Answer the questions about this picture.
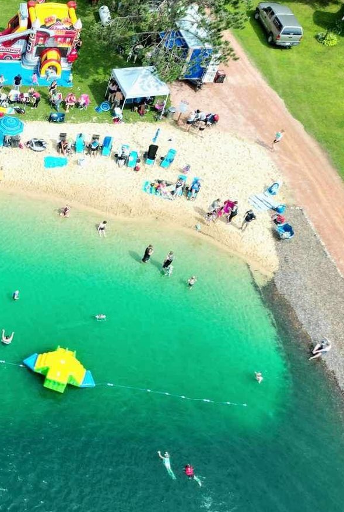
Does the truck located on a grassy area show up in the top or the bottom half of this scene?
top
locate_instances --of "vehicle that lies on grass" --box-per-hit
[253,0,312,45]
